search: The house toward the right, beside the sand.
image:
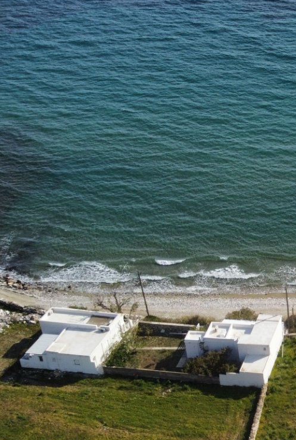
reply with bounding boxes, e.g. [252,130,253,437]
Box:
[176,313,284,383]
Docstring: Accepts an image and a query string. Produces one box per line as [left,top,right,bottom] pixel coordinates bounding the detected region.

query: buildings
[176,313,284,383]
[19,308,134,373]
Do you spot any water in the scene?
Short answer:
Yes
